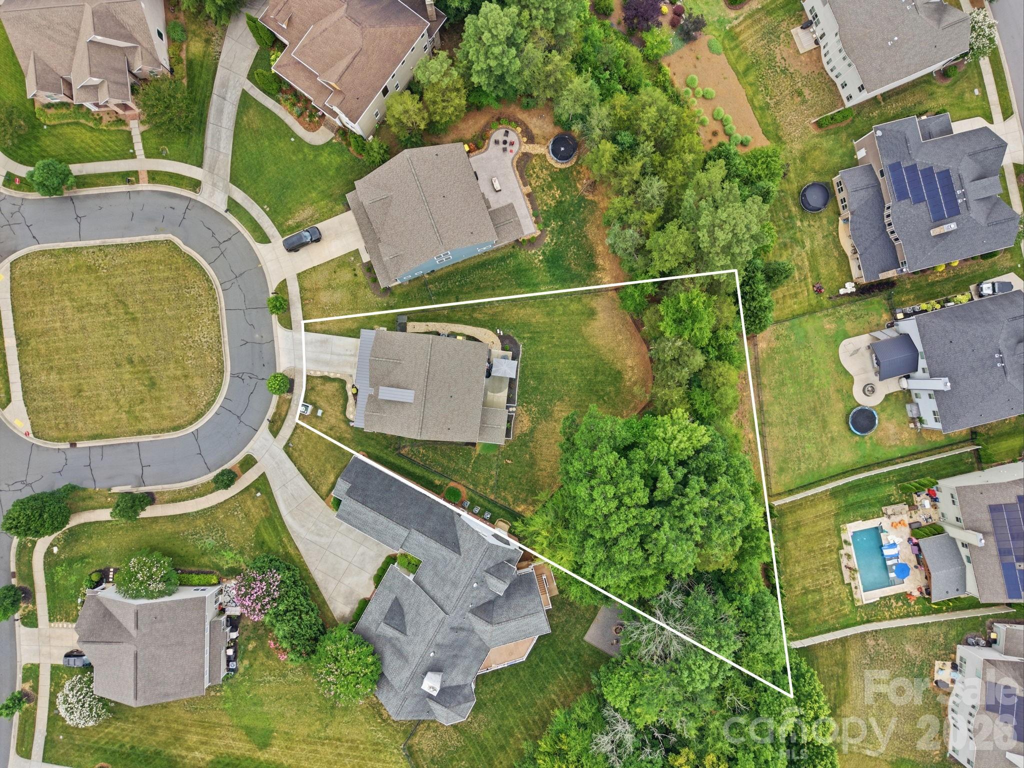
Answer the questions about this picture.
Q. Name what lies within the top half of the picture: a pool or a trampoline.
trampoline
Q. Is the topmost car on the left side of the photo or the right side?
left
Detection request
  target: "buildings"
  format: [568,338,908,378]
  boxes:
[353,329,509,445]
[911,462,1024,603]
[949,622,1024,768]
[257,0,444,137]
[346,142,525,289]
[831,112,1020,284]
[894,289,1024,434]
[332,455,560,726]
[801,0,971,108]
[74,582,234,708]
[0,0,181,122]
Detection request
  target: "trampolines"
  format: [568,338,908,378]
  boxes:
[548,131,578,163]
[852,406,881,436]
[803,179,838,212]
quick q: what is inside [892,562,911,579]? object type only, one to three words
umbrella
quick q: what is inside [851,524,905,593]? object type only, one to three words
swimming pool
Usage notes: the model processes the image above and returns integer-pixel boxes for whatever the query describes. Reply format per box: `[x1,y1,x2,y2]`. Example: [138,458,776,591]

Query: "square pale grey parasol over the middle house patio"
[491,358,517,379]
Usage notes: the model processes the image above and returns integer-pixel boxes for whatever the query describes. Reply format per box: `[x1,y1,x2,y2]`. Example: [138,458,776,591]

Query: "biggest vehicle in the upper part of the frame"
[279,226,321,253]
